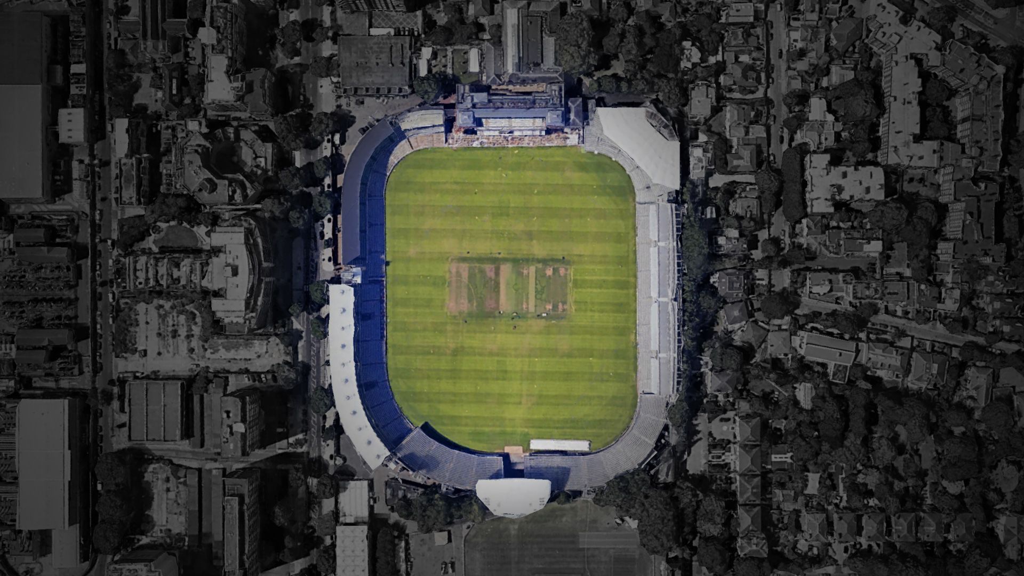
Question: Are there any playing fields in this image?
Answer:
Yes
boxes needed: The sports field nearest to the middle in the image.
[386,146,638,454]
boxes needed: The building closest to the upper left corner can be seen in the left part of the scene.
[0,11,51,88]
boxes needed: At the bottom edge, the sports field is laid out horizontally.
[464,500,653,576]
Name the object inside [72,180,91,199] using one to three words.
house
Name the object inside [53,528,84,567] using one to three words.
shed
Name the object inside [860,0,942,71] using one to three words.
building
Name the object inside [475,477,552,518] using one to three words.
building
